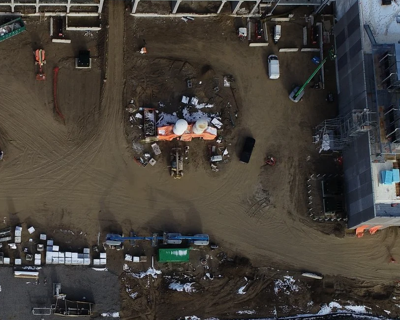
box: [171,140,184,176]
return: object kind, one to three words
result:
vehicle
